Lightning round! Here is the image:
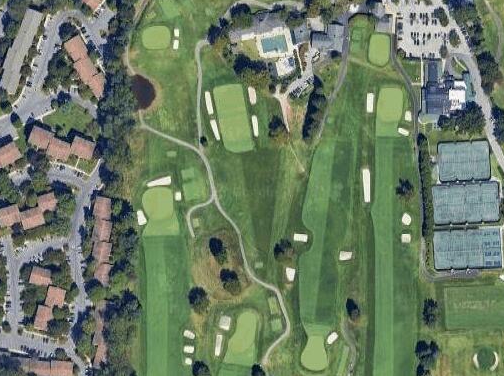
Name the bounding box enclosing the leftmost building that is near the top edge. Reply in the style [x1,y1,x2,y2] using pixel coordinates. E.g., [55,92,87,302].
[0,7,43,94]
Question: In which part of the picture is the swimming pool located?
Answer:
top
